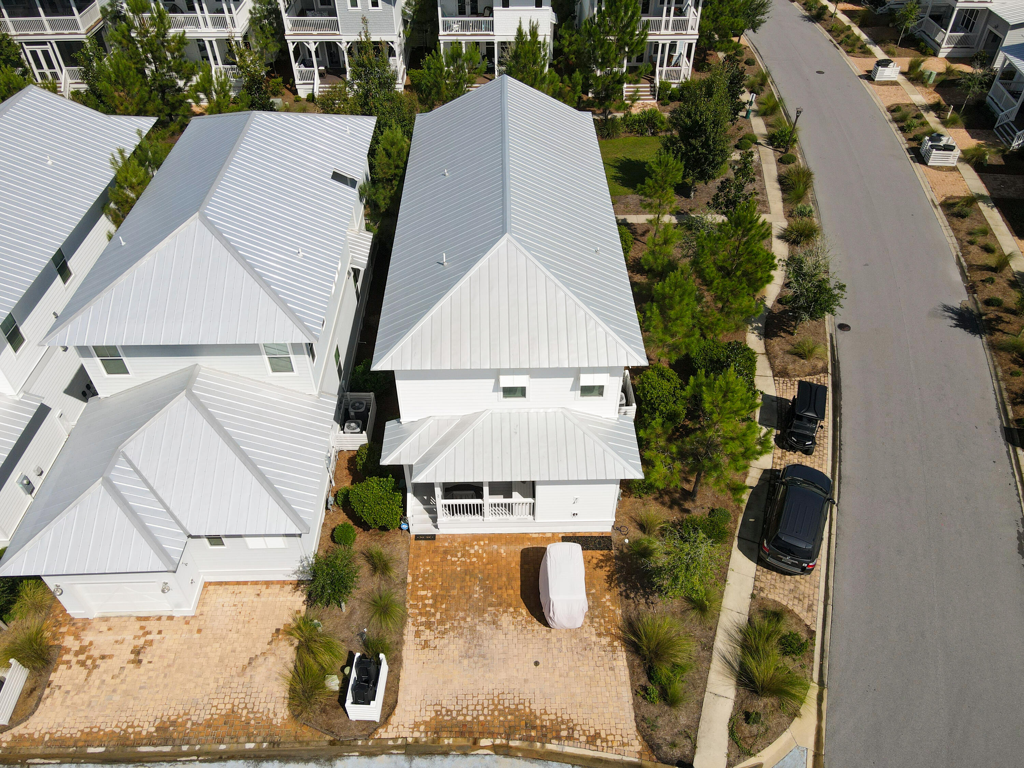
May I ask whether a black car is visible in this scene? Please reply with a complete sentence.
Yes, the photo shows a black car.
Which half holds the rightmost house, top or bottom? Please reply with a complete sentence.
It is in the top half that the rightmost house appears.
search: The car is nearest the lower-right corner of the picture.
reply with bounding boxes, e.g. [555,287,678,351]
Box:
[760,467,837,581]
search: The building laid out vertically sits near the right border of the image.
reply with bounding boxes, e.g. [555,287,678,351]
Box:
[978,41,1024,150]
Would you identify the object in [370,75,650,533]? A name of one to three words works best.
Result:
house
